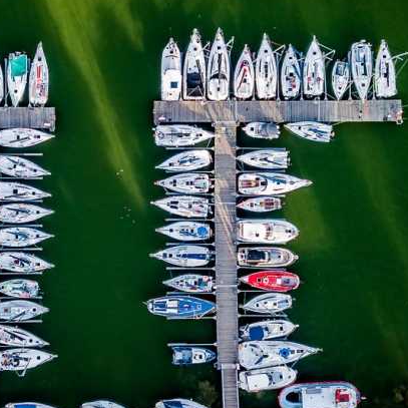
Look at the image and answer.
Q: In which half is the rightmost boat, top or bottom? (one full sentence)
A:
It is in the top half that the rightmost boat appears.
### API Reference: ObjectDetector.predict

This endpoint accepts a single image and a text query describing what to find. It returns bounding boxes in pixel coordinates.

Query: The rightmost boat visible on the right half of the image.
[372,39,407,102]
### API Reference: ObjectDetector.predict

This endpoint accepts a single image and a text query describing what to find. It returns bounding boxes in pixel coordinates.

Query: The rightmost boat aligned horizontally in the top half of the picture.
[283,122,338,142]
